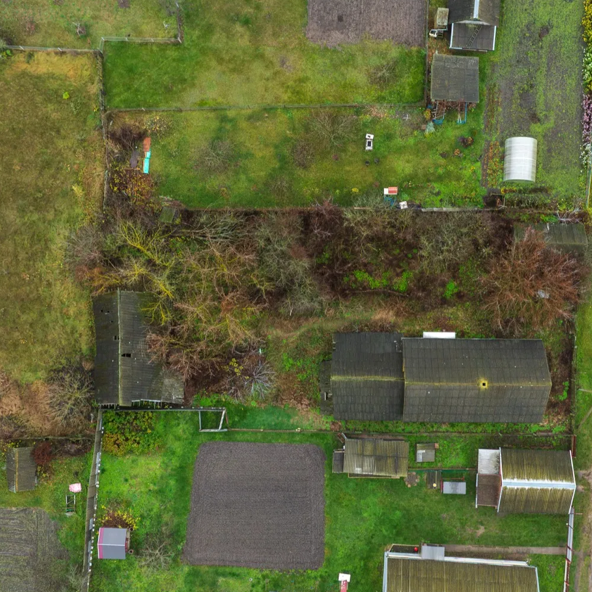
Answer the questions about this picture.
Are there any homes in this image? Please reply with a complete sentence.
Yes, a home can be made out from above.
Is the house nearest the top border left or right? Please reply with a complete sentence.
You can find the house nearest the top border on the right side of the picture.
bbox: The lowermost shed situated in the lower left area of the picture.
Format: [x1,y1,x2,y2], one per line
[98,525,131,559]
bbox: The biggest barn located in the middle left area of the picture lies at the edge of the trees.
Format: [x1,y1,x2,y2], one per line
[93,289,185,407]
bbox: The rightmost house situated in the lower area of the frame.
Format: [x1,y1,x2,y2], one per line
[476,447,578,515]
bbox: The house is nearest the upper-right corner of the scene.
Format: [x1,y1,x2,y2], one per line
[447,0,500,55]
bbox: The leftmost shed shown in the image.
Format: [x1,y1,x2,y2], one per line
[7,446,42,493]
